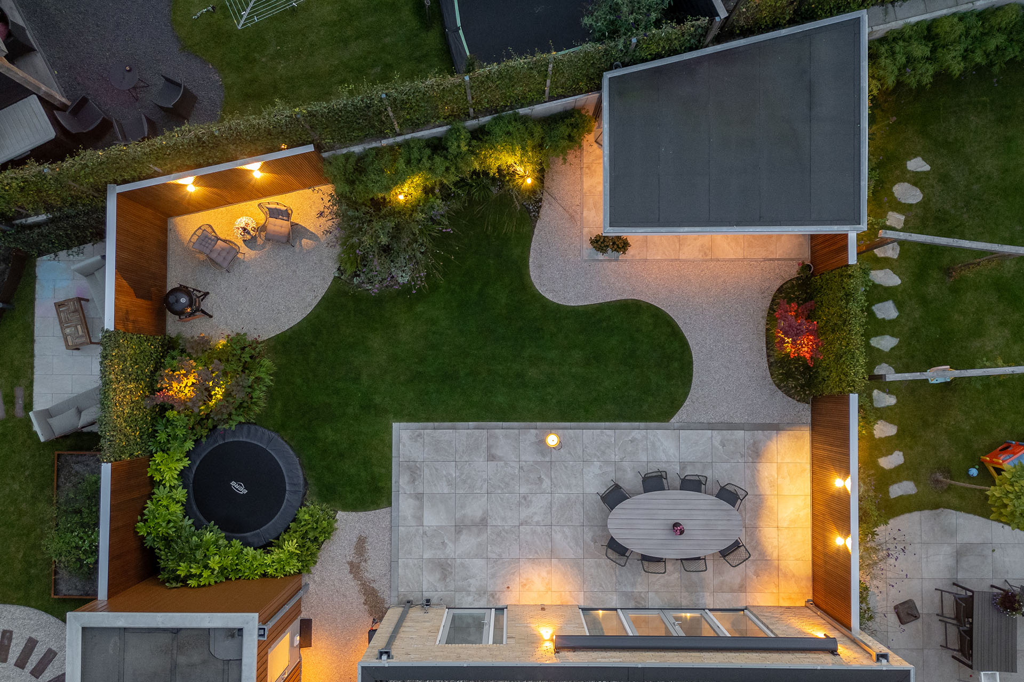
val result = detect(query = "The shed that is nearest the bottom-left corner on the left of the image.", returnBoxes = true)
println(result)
[64,574,311,682]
